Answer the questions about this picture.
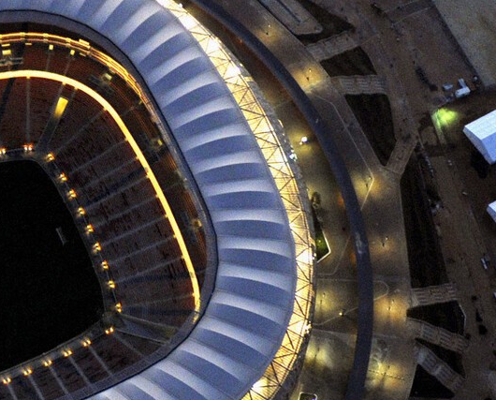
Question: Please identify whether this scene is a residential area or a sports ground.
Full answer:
It's a sports ground.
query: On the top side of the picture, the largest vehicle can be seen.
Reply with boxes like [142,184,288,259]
[456,80,469,97]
